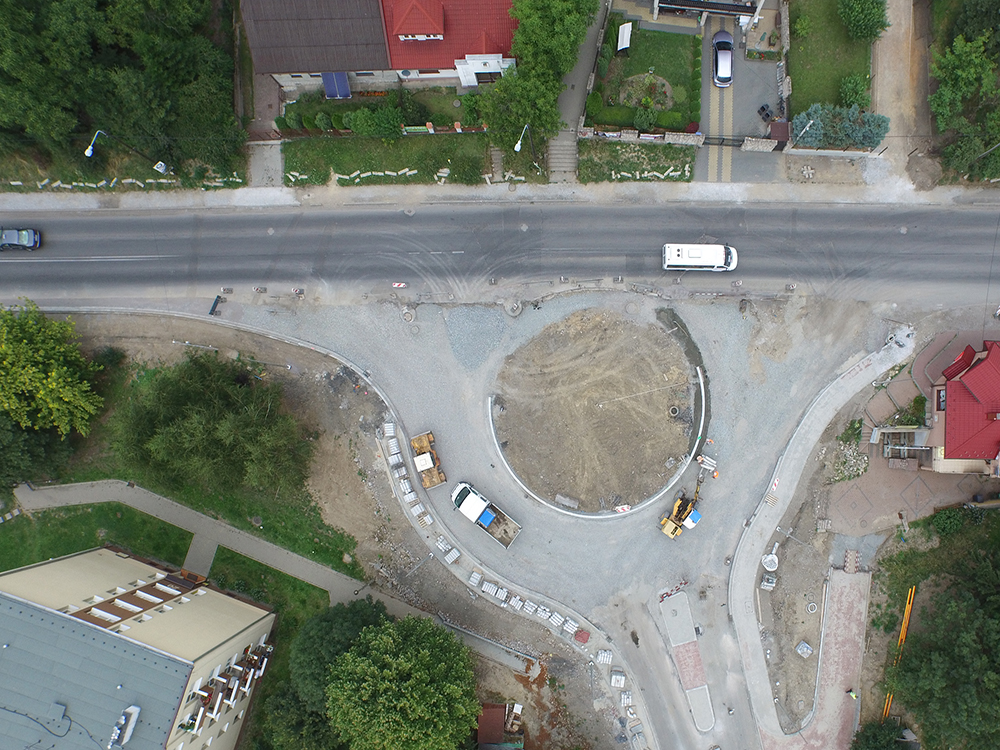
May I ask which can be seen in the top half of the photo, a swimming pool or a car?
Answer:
car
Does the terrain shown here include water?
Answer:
No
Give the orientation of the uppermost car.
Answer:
up and down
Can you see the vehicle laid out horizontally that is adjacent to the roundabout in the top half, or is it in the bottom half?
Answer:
top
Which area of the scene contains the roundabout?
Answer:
center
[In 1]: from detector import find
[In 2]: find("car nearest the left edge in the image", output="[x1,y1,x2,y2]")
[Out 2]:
[0,229,44,255]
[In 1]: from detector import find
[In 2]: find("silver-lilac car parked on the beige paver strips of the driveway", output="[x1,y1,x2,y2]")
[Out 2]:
[709,30,737,88]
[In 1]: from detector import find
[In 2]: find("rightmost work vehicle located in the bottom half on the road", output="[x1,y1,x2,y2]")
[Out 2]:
[652,456,701,545]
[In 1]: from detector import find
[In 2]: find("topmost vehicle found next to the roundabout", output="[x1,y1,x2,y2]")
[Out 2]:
[660,240,741,273]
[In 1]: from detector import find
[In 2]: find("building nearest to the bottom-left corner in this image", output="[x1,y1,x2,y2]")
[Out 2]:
[0,536,285,750]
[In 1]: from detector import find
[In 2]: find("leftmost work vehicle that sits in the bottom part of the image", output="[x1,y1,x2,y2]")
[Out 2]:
[408,431,451,491]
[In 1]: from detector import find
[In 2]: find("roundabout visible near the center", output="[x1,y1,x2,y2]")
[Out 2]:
[487,307,712,521]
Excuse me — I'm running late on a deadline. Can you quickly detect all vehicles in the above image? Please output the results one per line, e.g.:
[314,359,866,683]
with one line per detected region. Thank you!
[408,431,451,491]
[451,480,522,551]
[652,456,701,545]
[709,30,737,88]
[660,240,741,273]
[0,229,44,255]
